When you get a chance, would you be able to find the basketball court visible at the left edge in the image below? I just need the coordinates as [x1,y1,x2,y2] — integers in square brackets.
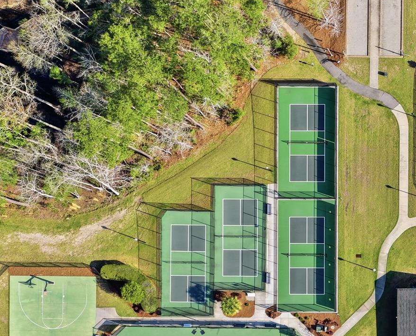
[9,276,96,336]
